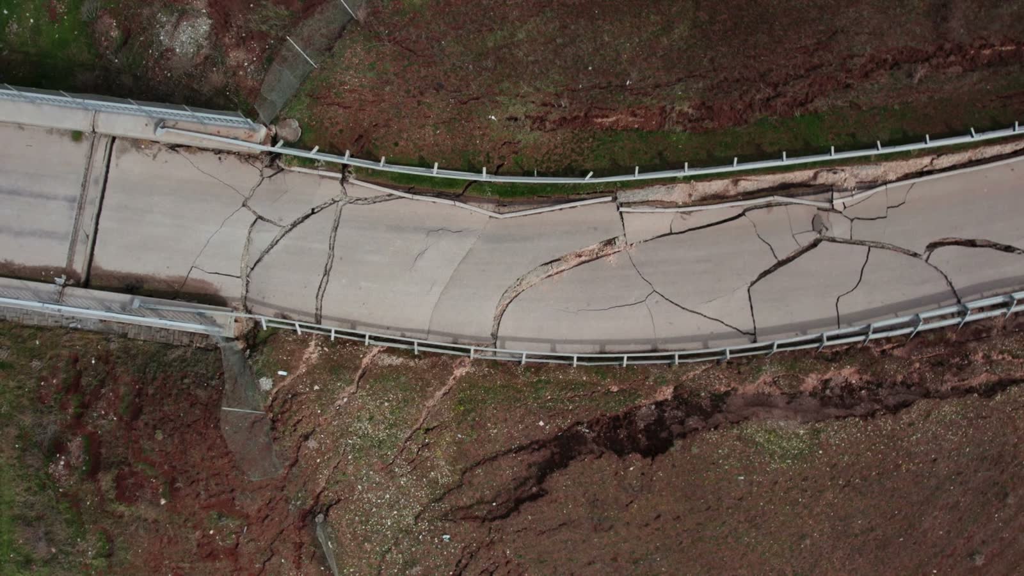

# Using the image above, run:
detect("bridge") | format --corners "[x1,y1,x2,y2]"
[0,96,279,337]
